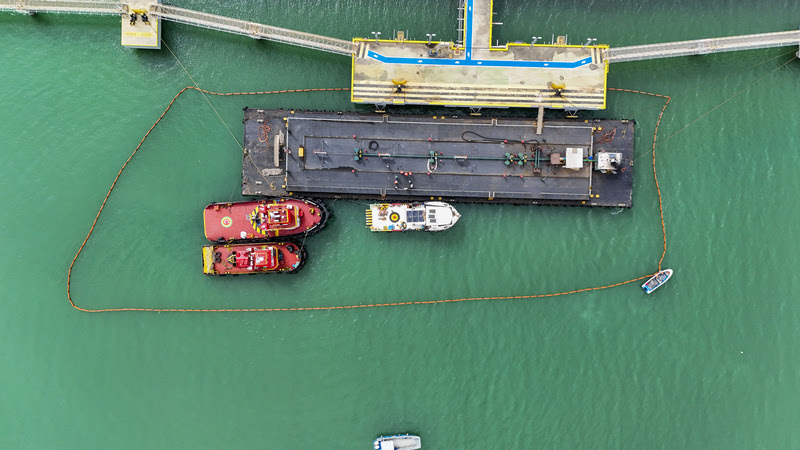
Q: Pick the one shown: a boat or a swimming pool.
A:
boat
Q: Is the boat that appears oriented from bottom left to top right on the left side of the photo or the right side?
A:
right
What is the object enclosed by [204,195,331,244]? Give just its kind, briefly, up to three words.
boat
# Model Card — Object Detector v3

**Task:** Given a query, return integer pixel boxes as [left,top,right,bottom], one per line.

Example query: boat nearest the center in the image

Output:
[366,203,461,232]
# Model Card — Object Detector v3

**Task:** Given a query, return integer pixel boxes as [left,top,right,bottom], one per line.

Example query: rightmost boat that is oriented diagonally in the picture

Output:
[641,269,673,293]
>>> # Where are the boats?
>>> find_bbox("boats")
[204,195,331,244]
[374,433,421,450]
[203,239,310,277]
[366,203,461,232]
[641,269,673,293]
